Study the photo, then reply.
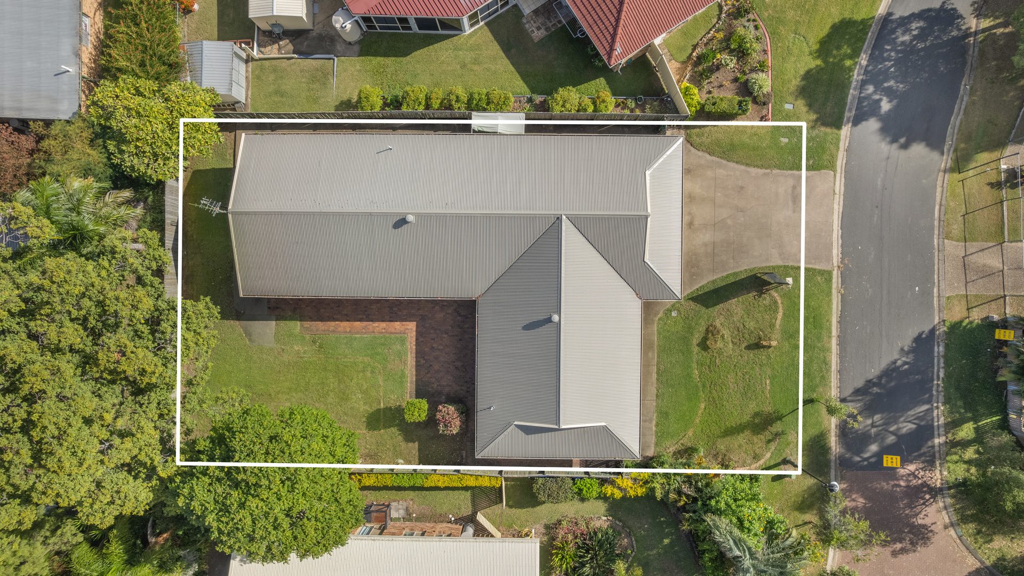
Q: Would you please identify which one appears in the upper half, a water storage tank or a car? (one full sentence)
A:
The feature located in the upper half is a water storage tank.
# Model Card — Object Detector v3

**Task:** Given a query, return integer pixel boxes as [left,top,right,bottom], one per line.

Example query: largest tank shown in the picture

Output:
[333,9,370,50]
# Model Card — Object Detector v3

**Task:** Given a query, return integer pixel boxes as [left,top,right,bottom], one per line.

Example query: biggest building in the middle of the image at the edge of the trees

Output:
[225,132,685,461]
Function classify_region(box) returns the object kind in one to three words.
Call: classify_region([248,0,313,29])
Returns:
shed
